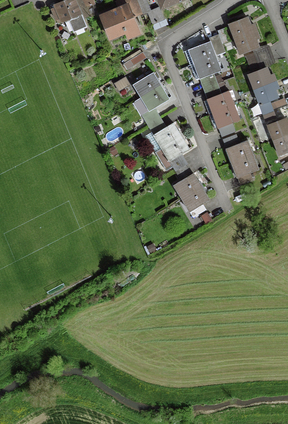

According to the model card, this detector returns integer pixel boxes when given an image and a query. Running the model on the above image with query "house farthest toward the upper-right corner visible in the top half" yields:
[228,16,260,65]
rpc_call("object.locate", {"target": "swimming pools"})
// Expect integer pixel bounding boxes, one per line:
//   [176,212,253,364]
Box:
[106,128,123,142]
[134,170,145,182]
